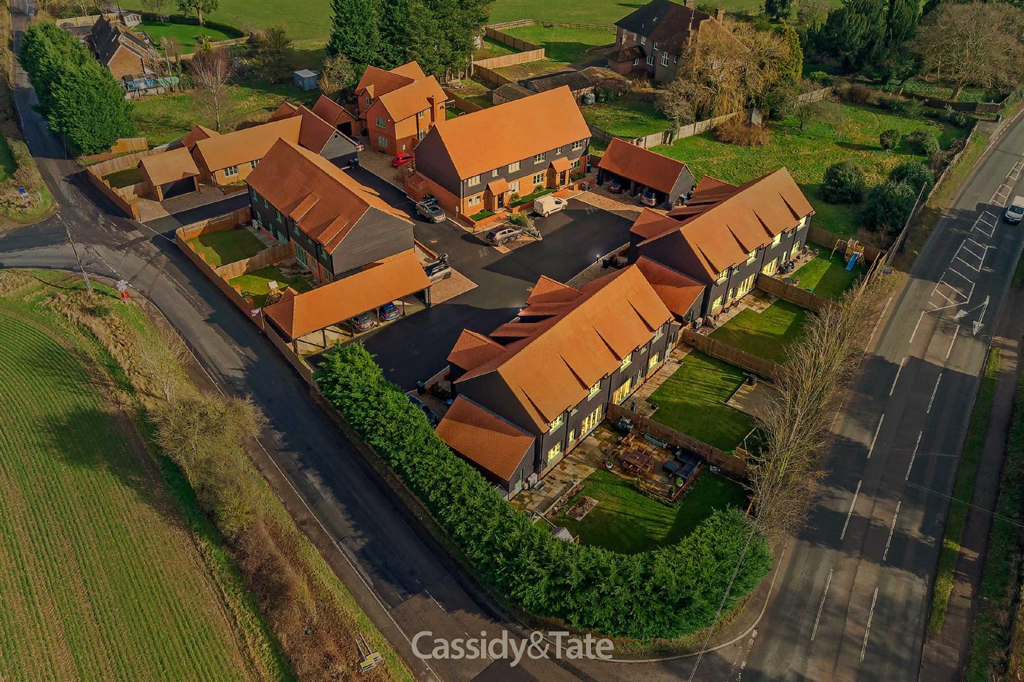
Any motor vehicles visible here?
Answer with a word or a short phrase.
Yes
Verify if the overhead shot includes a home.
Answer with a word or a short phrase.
Yes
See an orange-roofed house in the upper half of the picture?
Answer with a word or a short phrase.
Yes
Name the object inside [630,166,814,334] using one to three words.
house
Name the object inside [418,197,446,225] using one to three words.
car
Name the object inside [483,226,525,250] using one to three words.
car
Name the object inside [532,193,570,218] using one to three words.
vehicle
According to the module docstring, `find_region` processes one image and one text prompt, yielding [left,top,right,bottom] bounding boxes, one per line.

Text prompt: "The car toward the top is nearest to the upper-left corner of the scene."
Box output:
[354,139,372,157]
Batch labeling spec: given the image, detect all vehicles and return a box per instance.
[354,139,372,157]
[418,197,446,225]
[423,252,460,283]
[483,226,525,250]
[606,175,631,195]
[638,186,662,208]
[532,193,570,218]
[385,151,416,169]
[372,302,403,326]
[1005,190,1024,222]
[345,312,377,338]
